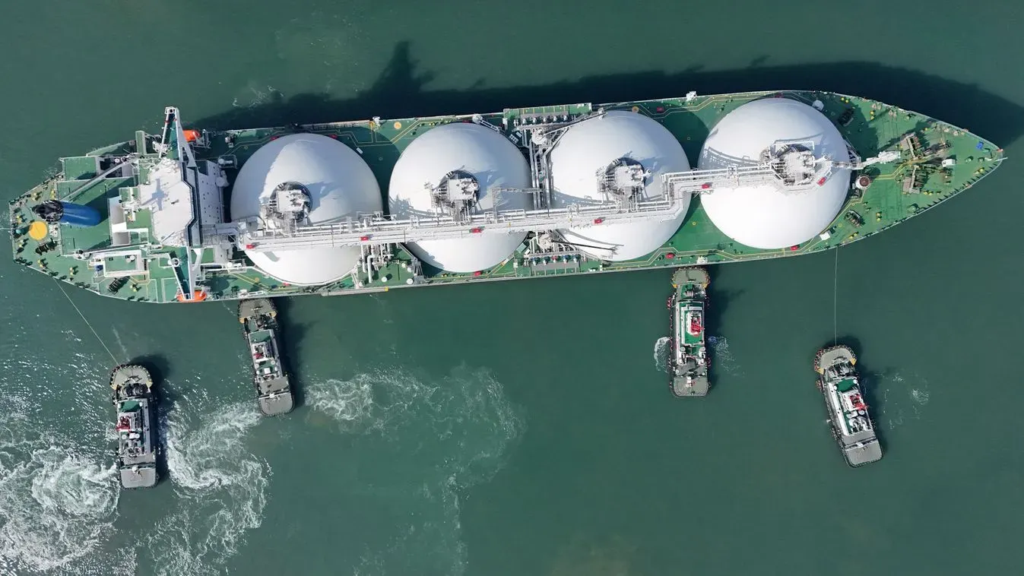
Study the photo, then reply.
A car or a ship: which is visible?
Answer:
ship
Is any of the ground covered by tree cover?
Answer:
No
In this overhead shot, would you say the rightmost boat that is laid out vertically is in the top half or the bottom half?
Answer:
bottom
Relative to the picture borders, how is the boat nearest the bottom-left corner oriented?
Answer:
up and down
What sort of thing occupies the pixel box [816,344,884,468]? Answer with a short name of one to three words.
boat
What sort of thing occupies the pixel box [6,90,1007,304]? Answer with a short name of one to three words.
ship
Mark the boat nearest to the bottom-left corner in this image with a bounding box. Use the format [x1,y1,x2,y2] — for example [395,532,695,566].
[110,363,161,489]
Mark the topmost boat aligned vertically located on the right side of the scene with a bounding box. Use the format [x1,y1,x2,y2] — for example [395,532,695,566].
[667,268,713,396]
